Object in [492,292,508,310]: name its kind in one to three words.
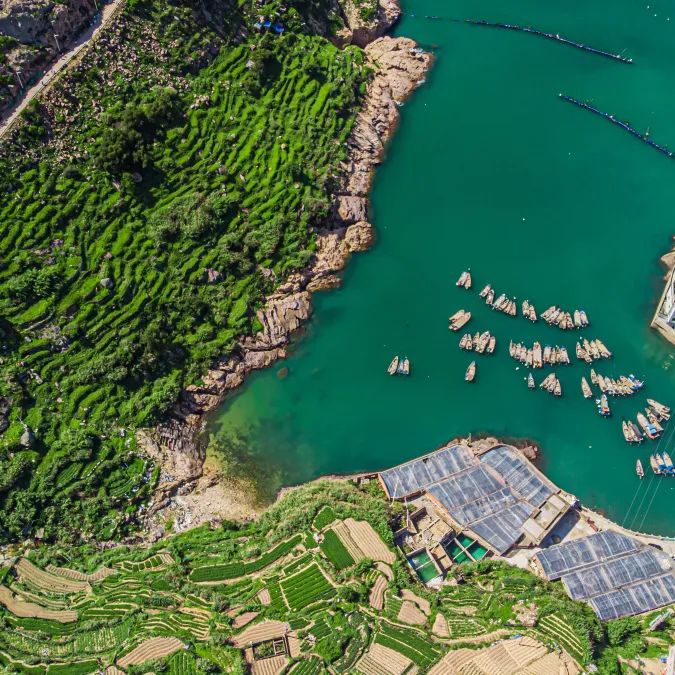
boat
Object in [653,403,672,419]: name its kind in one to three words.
boat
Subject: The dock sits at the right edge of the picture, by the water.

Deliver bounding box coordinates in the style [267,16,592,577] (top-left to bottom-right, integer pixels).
[648,265,675,354]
